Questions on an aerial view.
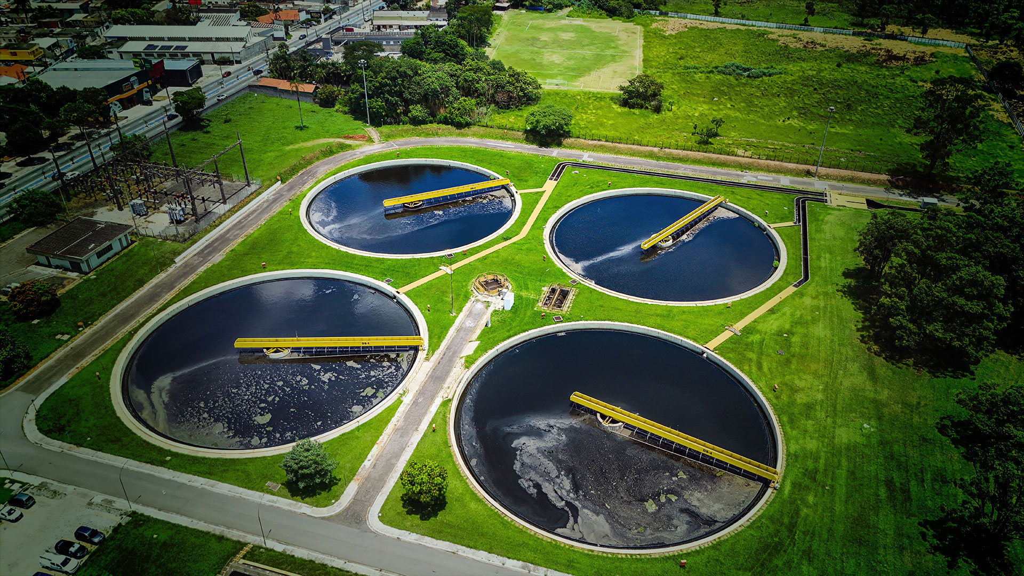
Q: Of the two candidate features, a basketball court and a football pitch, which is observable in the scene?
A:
football pitch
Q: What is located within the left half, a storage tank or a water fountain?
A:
storage tank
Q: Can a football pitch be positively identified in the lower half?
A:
No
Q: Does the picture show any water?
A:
Yes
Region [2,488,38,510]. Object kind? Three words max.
car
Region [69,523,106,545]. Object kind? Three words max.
car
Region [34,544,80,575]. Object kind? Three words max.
truck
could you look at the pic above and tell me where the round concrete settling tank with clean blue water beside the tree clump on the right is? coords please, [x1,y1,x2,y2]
[541,187,788,309]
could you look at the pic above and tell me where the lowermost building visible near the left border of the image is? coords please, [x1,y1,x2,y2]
[27,217,134,274]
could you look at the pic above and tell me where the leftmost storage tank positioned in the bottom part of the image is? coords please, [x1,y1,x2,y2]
[107,268,431,463]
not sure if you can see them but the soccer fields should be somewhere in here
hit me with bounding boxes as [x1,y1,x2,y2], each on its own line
[497,14,643,90]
